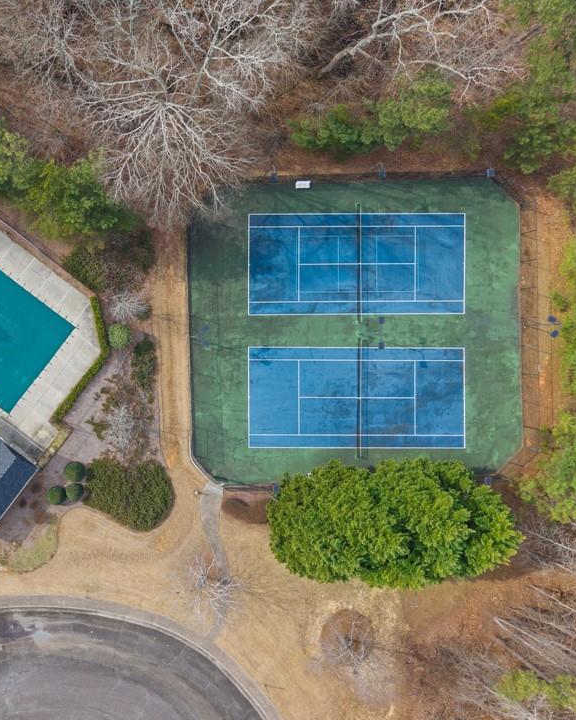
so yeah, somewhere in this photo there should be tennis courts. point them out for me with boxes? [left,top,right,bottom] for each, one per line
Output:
[248,347,466,449]
[248,213,466,315]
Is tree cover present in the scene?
Yes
